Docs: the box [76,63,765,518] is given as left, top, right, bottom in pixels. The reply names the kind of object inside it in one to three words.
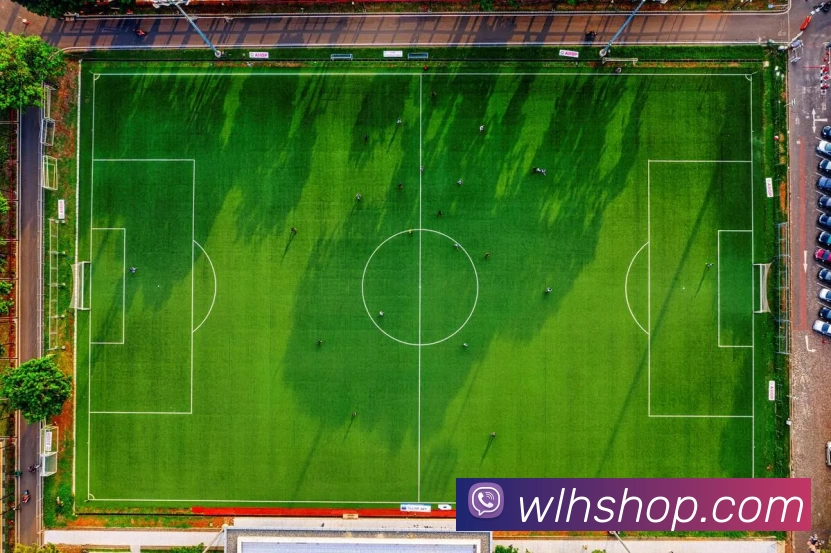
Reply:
soccer field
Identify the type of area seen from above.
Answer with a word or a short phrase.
sports ground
